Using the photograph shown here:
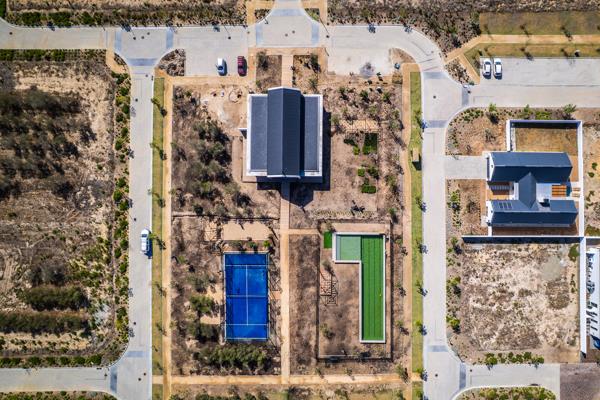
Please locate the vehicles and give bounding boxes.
[139,230,150,252]
[216,58,225,75]
[492,59,503,77]
[482,59,492,77]
[236,56,245,75]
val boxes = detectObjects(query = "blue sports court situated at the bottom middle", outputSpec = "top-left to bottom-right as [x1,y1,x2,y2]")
[220,252,268,344]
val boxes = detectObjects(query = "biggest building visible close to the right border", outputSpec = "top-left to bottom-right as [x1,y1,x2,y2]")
[486,152,578,225]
